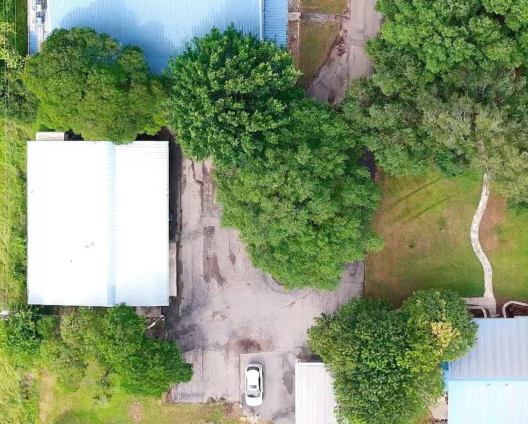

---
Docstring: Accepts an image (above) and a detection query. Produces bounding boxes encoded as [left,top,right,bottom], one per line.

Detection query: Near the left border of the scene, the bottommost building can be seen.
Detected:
[26,140,183,309]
